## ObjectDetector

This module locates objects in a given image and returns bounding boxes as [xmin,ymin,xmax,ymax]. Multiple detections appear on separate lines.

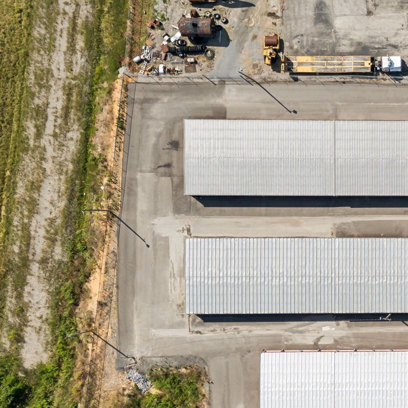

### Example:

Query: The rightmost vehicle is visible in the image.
[364,53,404,73]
